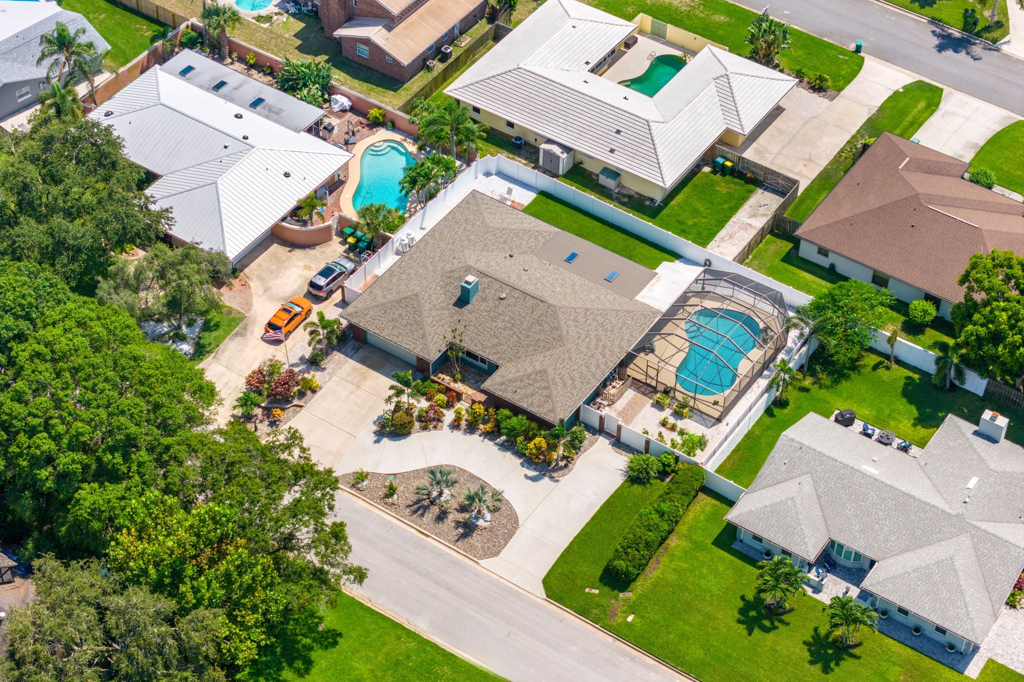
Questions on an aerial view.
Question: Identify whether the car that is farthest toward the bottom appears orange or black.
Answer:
orange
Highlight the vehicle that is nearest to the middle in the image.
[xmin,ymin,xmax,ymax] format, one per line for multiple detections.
[305,251,359,297]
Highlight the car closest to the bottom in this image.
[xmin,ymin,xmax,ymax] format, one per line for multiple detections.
[262,292,316,338]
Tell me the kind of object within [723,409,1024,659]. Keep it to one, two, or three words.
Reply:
house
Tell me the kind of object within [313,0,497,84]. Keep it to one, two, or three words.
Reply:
house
